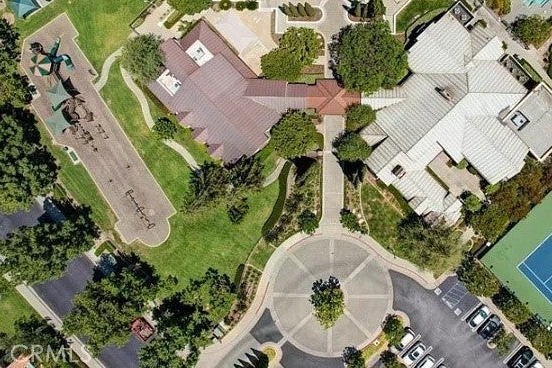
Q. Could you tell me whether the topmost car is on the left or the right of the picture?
left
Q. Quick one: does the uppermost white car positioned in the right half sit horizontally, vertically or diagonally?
diagonally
